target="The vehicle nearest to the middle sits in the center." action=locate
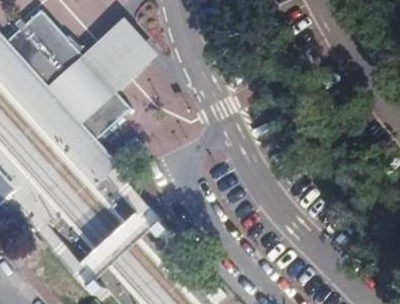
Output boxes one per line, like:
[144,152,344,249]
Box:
[210,162,229,178]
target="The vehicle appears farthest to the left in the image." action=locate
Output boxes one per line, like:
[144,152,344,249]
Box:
[0,256,14,276]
